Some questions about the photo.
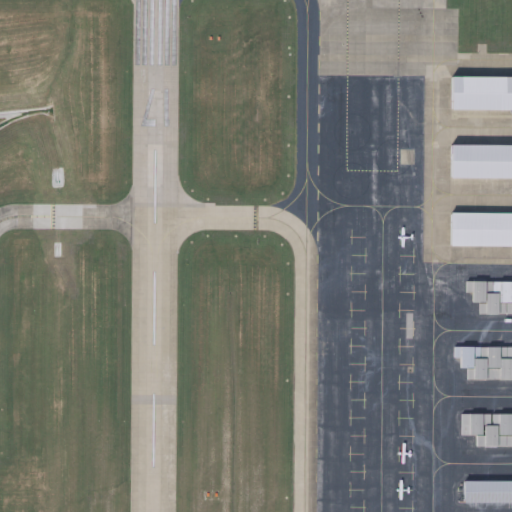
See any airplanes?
Yes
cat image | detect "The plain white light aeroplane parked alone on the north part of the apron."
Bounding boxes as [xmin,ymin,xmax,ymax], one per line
[398,227,414,248]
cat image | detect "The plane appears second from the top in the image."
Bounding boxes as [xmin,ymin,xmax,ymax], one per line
[398,443,414,464]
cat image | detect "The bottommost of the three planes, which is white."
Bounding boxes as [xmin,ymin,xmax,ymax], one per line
[396,480,412,500]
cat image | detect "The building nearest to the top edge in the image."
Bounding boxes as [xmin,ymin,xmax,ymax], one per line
[451,76,512,110]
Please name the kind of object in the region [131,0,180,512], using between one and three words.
runway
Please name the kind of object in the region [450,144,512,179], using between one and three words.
hangar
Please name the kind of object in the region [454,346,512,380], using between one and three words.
hangar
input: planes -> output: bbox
[398,443,414,464]
[396,480,412,500]
[398,227,414,248]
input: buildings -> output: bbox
[450,144,512,179]
[464,480,512,504]
[454,346,512,380]
[451,76,512,110]
[461,414,512,448]
[450,212,512,247]
[466,281,512,315]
